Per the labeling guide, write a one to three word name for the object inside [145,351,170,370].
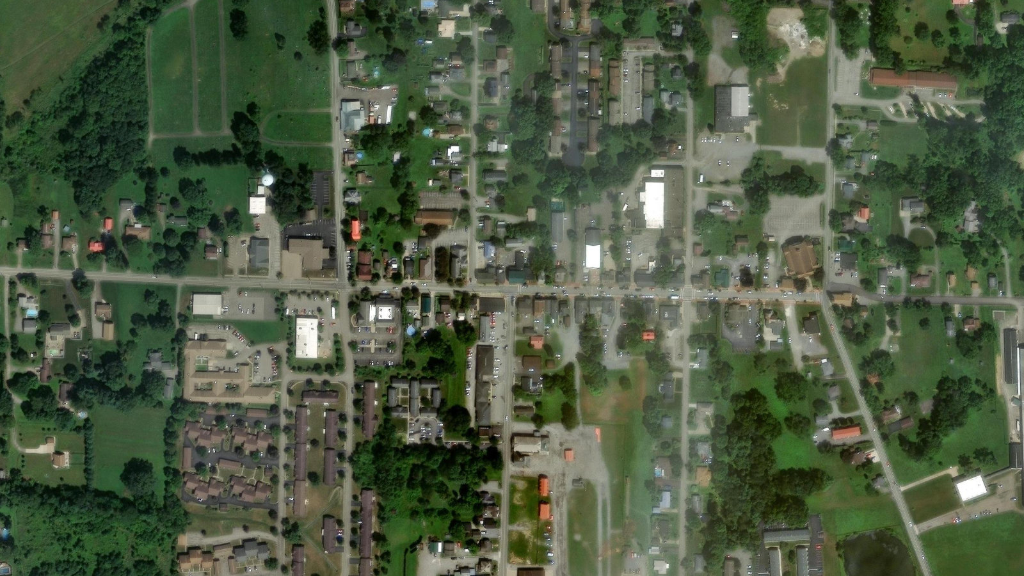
house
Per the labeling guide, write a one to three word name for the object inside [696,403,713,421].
house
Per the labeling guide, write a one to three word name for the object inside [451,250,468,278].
building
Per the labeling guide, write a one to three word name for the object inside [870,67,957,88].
building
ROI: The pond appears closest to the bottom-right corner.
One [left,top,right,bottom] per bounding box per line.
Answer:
[839,529,919,576]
